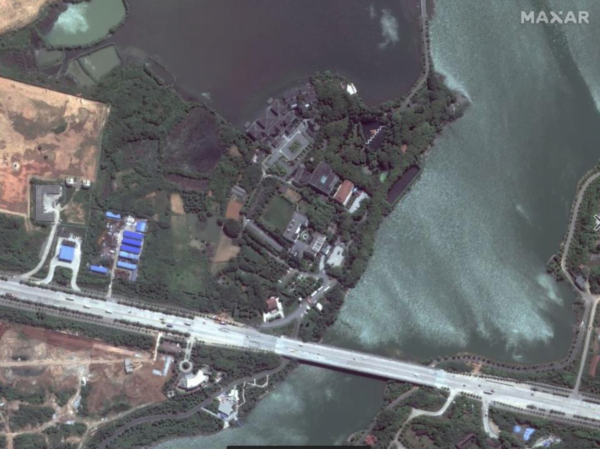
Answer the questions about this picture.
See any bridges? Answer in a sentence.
Yes, the photo shows a bridge.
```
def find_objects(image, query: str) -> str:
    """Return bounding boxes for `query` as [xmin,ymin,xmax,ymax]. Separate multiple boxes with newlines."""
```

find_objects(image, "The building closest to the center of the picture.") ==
[283,212,308,243]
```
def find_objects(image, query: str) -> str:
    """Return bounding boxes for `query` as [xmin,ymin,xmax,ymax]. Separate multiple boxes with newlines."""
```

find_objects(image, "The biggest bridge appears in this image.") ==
[270,335,446,389]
